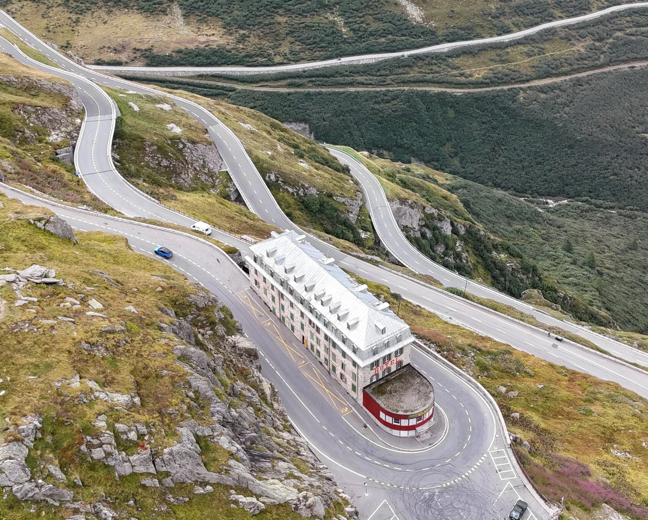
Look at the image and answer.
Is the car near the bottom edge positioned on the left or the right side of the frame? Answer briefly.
right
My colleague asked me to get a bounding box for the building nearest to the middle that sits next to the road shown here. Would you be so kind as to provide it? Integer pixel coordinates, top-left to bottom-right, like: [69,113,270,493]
[244,228,416,408]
